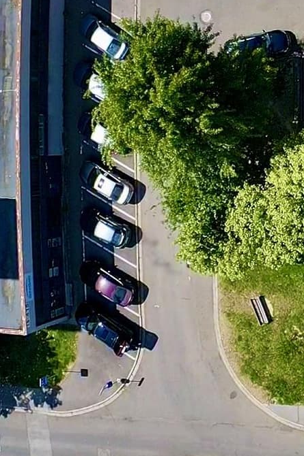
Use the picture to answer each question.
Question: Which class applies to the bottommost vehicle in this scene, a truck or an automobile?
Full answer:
From above, the bottommost vehicle can be identified as an automobile.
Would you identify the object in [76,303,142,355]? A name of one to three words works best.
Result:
car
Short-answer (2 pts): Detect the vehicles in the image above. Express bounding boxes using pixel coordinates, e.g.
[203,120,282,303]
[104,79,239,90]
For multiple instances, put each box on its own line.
[231,27,298,58]
[79,111,129,157]
[76,303,142,355]
[85,264,144,309]
[79,15,137,61]
[82,209,140,251]
[81,162,142,206]
[76,63,128,108]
